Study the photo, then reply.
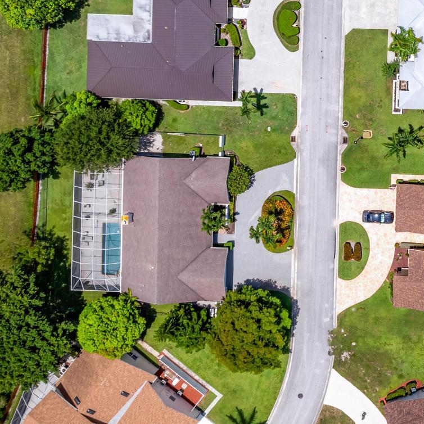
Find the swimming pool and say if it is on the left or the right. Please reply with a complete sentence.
The swimming pool appears in the left half of the scene.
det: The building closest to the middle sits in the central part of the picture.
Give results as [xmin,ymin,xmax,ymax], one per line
[115,152,232,305]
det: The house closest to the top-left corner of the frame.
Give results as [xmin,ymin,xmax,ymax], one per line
[85,0,236,101]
